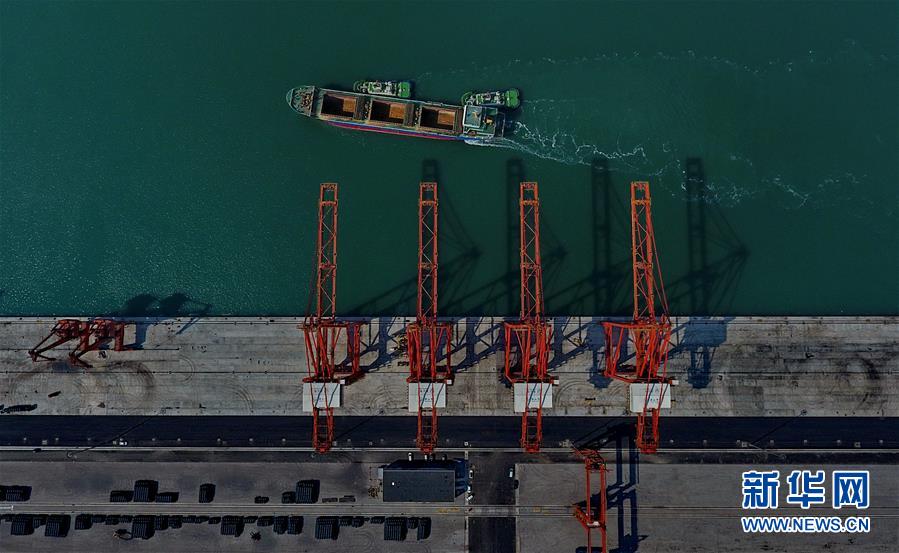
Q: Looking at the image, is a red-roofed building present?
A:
No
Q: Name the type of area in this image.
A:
port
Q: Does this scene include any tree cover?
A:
No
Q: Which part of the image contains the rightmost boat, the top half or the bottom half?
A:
top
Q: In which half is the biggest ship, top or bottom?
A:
top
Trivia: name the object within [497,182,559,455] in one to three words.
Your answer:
container crane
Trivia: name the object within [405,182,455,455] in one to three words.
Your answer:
container crane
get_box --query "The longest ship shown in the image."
[285,86,505,140]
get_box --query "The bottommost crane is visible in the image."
[574,448,617,553]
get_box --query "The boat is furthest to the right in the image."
[461,88,520,108]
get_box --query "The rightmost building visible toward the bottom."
[383,466,454,502]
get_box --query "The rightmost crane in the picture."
[596,182,678,456]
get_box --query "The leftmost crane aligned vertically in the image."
[298,183,366,455]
